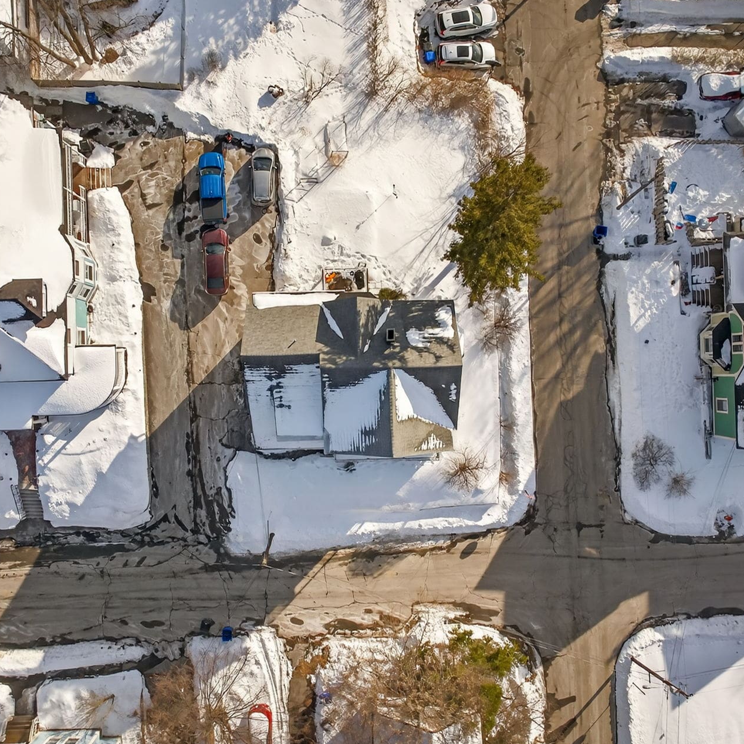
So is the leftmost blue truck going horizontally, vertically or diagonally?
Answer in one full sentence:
In this picture, the leftmost blue truck is oriented vertically.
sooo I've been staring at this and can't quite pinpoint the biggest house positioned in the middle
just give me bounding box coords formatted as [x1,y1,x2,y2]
[241,290,464,462]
